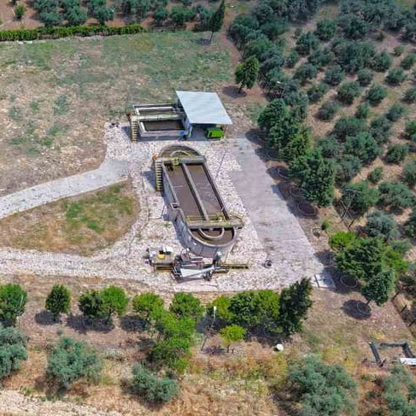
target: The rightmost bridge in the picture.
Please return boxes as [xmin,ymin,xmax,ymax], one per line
[188,213,247,230]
